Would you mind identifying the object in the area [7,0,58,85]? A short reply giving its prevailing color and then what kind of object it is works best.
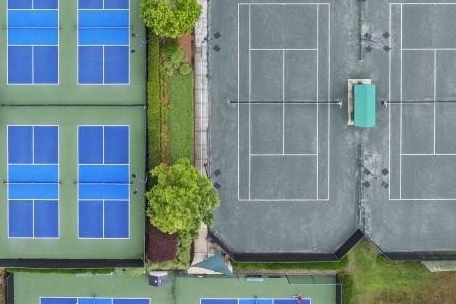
blue sports court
